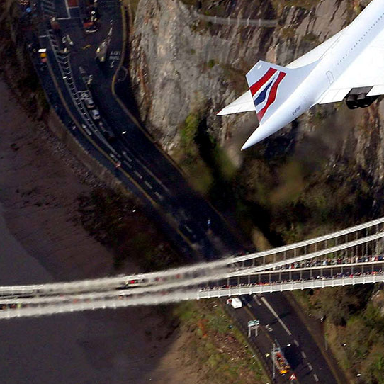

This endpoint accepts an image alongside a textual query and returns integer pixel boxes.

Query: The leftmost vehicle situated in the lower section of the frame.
[227,295,245,309]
